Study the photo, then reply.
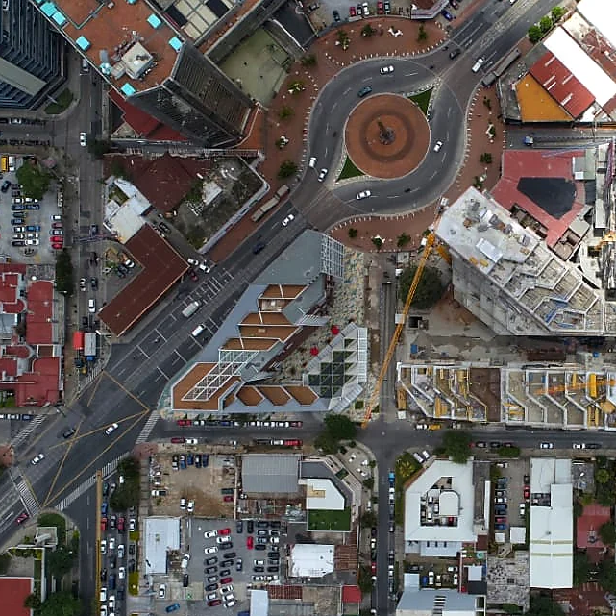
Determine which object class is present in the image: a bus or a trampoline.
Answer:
bus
